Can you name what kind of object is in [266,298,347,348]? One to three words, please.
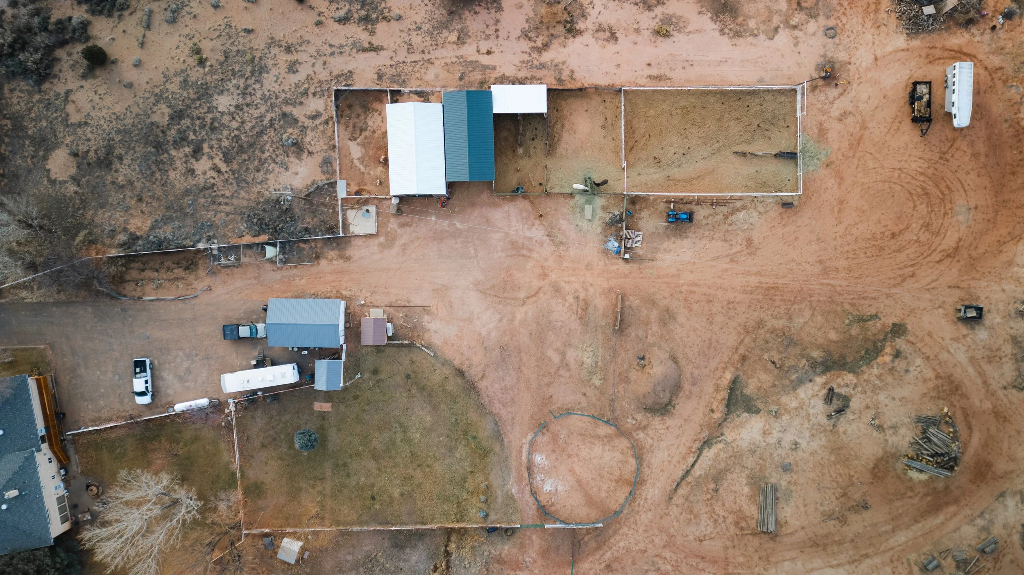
building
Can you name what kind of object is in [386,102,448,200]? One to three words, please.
barn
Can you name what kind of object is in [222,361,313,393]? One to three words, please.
vehicle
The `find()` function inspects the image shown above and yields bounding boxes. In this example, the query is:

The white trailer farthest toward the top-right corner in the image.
[942,62,973,130]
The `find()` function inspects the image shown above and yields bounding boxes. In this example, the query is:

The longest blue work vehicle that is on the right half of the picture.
[667,209,696,224]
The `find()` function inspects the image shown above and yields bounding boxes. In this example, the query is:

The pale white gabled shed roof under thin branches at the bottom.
[277,536,305,564]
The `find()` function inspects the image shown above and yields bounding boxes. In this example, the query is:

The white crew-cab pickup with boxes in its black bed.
[131,358,156,405]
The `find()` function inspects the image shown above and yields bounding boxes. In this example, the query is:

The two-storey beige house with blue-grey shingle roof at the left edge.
[0,374,74,555]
